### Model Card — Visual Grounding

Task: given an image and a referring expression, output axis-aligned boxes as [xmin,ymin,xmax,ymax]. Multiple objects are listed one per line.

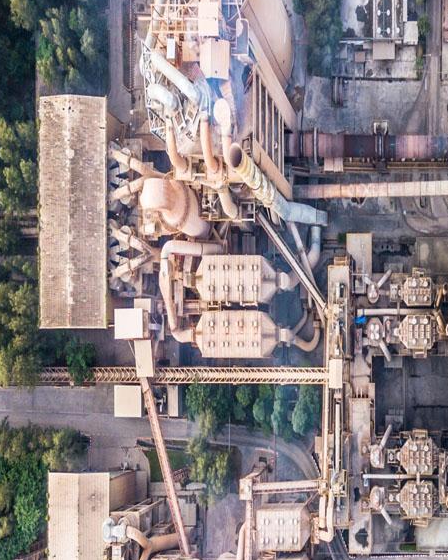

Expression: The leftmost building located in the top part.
[37,92,123,330]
